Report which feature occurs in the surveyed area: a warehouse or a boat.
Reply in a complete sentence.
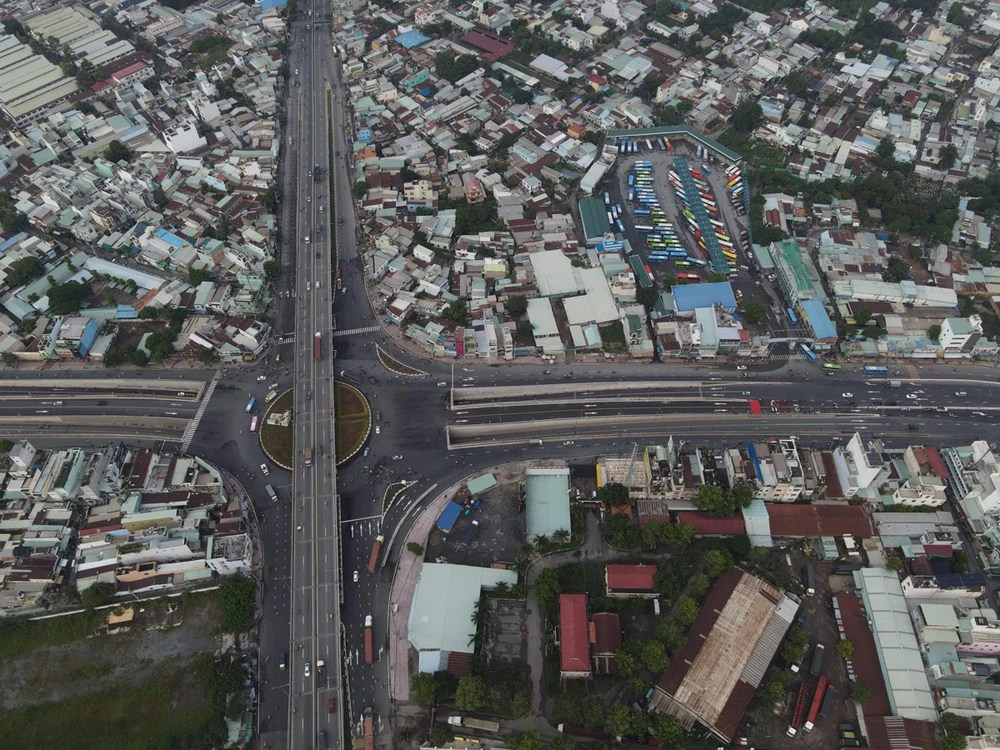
The one in the frame is a warehouse.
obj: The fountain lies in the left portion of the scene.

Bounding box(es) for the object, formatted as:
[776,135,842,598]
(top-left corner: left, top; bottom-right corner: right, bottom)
[265,409,291,427]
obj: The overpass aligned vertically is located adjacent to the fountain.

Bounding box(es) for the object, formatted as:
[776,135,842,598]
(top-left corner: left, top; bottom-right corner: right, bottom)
[287,90,347,750]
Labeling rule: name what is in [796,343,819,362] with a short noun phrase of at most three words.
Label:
vehicle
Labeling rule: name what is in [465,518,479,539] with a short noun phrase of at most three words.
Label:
vehicle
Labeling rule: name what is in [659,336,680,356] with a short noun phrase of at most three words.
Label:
house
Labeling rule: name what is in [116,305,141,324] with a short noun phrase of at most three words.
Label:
shed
